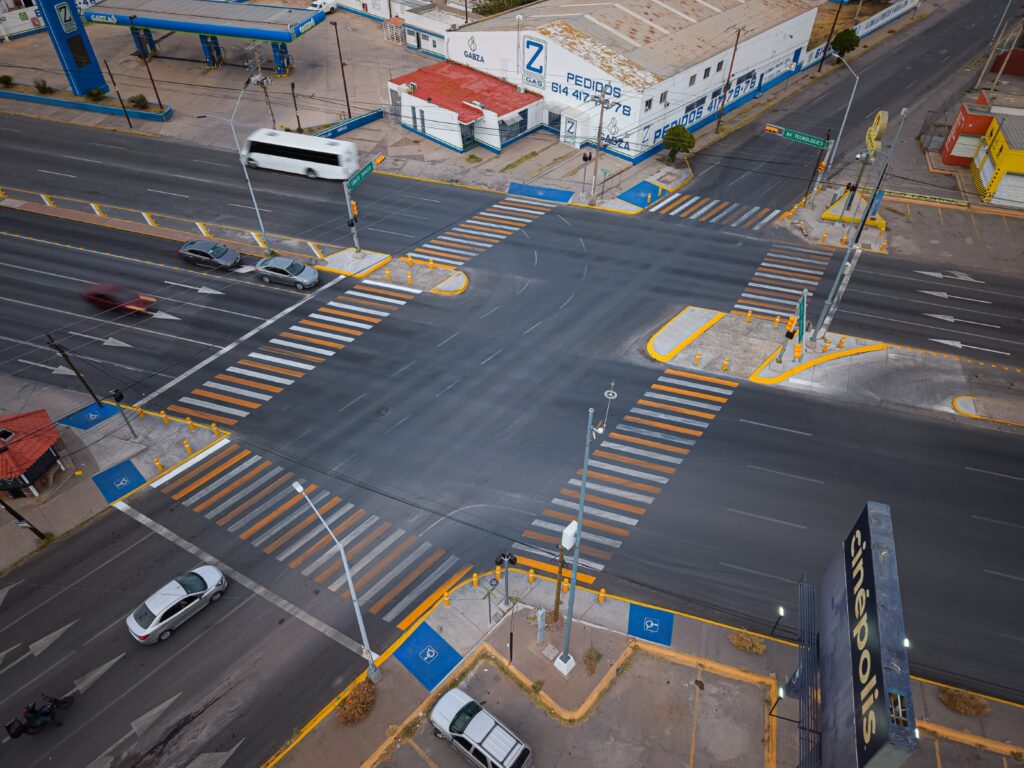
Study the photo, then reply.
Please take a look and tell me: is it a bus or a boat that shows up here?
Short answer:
bus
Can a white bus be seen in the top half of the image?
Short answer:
Yes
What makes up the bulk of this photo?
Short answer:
paved ground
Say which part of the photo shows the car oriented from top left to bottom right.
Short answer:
bottom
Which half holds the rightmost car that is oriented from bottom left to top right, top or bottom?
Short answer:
bottom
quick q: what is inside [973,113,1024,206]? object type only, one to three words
building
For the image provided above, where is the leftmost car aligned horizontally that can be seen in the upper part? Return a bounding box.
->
[89,281,151,316]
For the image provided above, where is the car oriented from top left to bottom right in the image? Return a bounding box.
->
[430,690,538,768]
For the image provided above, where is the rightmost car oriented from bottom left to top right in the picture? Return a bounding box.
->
[124,564,226,647]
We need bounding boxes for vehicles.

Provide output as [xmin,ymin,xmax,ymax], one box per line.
[430,690,538,768]
[0,689,75,736]
[89,281,151,316]
[183,239,245,269]
[124,564,226,647]
[234,125,353,179]
[255,257,319,289]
